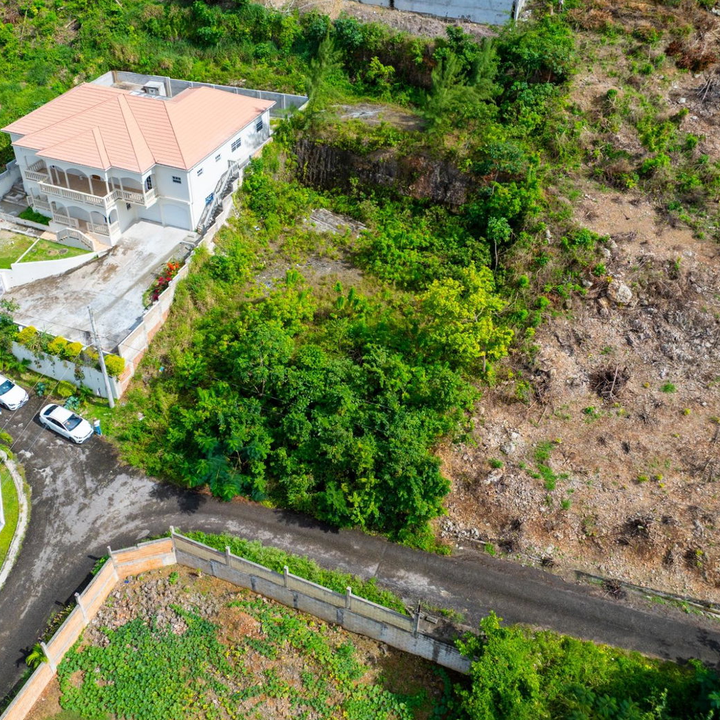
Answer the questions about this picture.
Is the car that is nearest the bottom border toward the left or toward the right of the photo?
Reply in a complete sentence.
The car that is nearest the bottom border sits on the left side.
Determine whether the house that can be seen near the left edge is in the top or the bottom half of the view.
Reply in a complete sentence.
The top half of the photo is where the house that can be seen near the left edge is.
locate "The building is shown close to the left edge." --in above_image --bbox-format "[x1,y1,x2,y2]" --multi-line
[0,83,277,243]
